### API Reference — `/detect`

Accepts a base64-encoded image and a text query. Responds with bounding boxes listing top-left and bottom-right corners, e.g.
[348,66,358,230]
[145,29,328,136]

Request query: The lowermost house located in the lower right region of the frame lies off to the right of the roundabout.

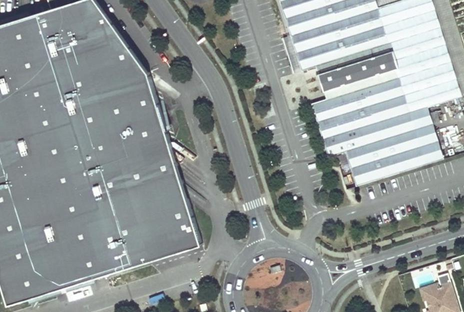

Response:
[420,274,462,312]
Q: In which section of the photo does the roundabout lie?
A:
bottom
